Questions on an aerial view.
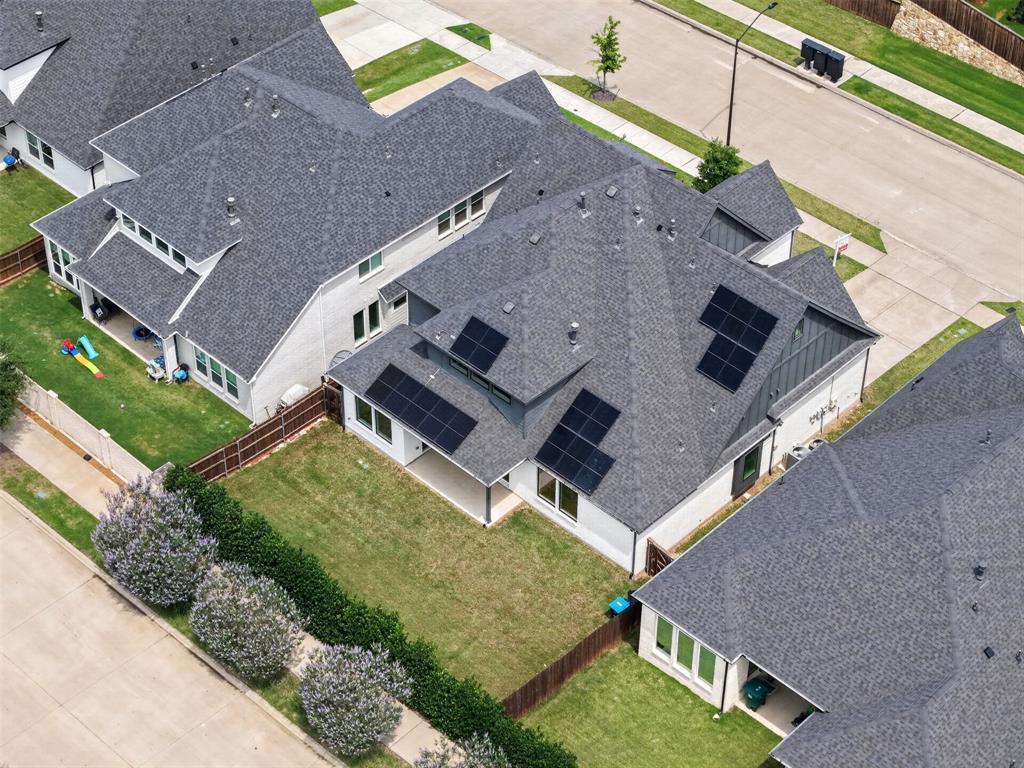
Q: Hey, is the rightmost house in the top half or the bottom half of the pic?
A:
bottom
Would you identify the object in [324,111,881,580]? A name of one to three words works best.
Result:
house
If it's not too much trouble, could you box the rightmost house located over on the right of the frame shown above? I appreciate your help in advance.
[631,313,1024,768]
